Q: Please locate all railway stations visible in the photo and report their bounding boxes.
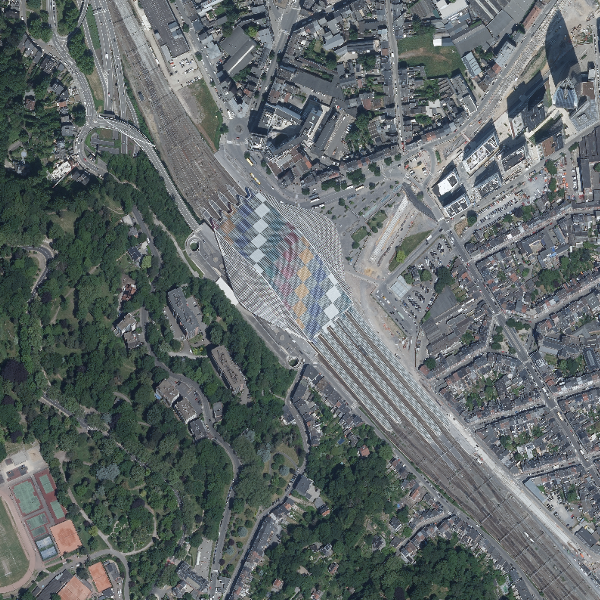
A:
[196,172,469,462]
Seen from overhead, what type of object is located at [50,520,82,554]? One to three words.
tennis court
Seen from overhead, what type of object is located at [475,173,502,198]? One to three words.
building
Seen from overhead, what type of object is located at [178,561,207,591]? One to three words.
house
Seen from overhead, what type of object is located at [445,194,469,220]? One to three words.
building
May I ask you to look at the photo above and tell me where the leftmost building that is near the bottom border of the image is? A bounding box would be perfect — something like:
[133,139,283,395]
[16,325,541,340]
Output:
[36,570,74,600]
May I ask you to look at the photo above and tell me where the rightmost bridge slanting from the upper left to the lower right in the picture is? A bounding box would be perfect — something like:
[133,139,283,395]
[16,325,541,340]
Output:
[92,116,198,233]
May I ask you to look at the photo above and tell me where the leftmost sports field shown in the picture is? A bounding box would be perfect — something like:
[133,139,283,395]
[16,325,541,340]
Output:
[0,492,28,585]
